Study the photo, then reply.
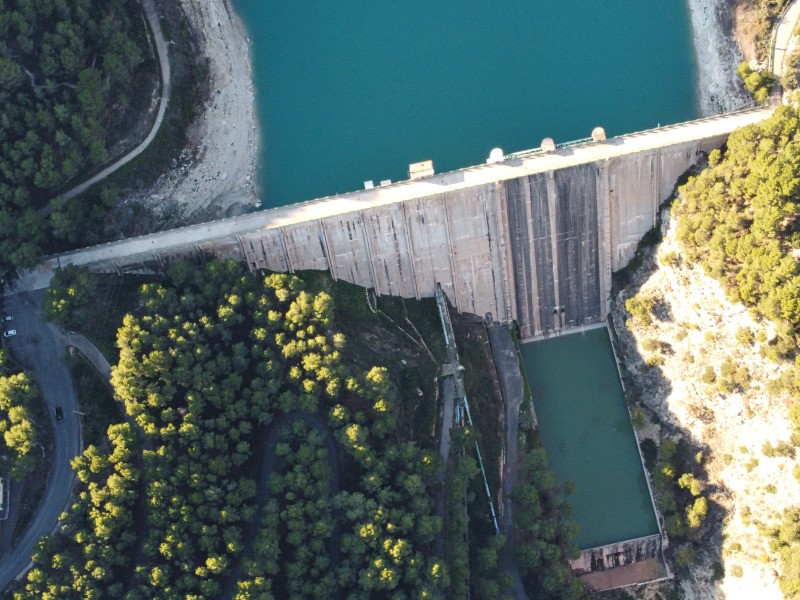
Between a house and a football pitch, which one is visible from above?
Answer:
house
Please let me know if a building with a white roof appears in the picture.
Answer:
Yes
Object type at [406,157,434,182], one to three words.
house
